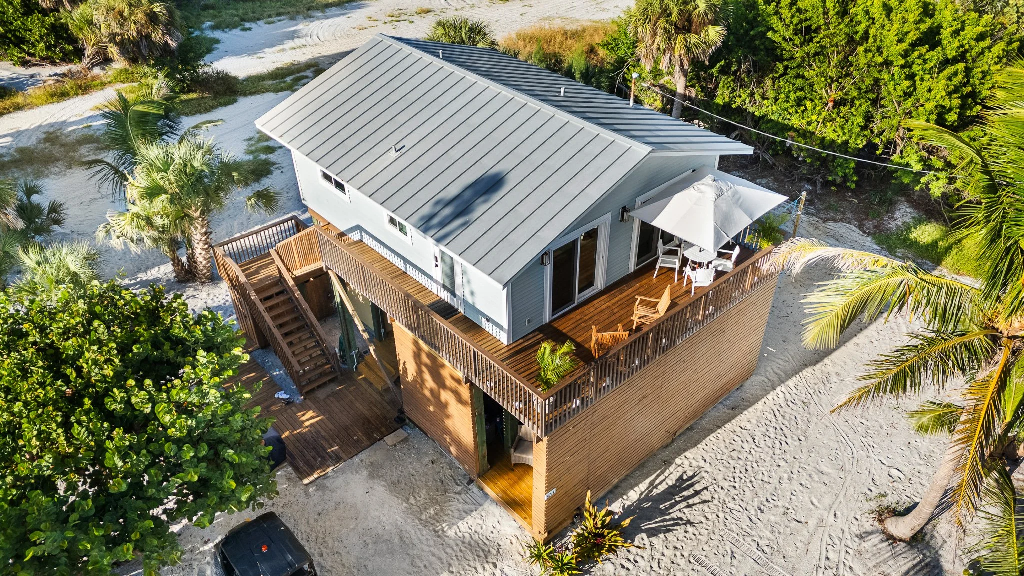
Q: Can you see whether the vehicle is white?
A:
No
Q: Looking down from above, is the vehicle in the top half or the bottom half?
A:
bottom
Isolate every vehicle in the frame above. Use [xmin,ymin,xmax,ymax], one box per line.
[209,514,320,576]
